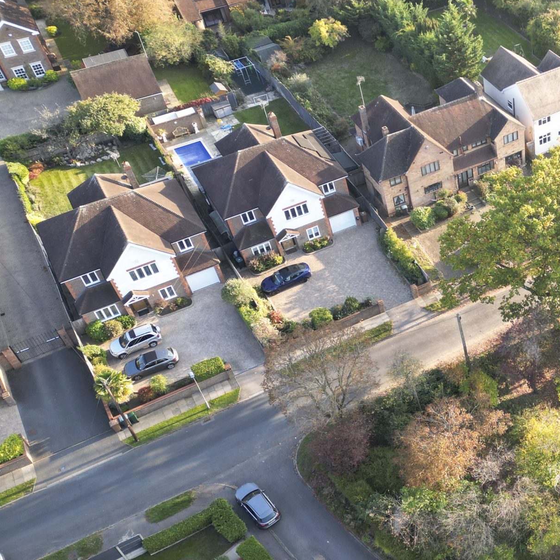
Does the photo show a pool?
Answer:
Yes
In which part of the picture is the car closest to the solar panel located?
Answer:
center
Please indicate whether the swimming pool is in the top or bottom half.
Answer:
top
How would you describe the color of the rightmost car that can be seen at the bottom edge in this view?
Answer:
blue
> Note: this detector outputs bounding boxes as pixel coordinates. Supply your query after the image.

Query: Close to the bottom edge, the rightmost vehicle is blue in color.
[236,481,279,536]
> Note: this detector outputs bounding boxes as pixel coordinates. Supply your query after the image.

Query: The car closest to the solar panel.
[258,260,314,297]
